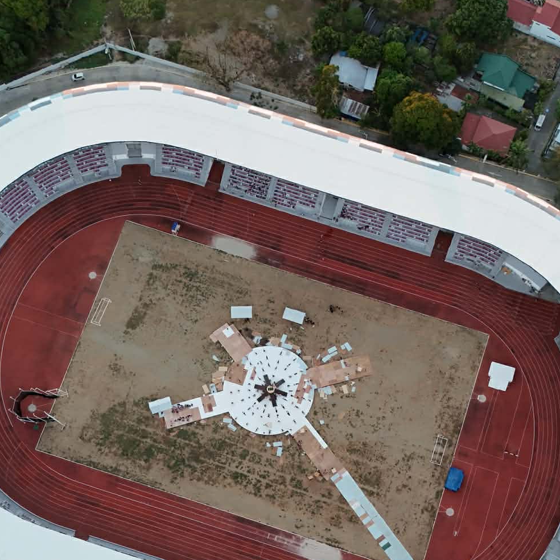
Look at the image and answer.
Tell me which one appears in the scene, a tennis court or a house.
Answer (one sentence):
I can see a house in this picture.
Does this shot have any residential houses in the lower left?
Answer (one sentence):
No, no residential house appears in the lower left.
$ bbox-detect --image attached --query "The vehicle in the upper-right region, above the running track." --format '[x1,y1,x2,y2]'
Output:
[535,114,547,132]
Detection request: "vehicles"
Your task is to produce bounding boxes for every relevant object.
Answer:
[72,72,85,82]
[535,114,547,132]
